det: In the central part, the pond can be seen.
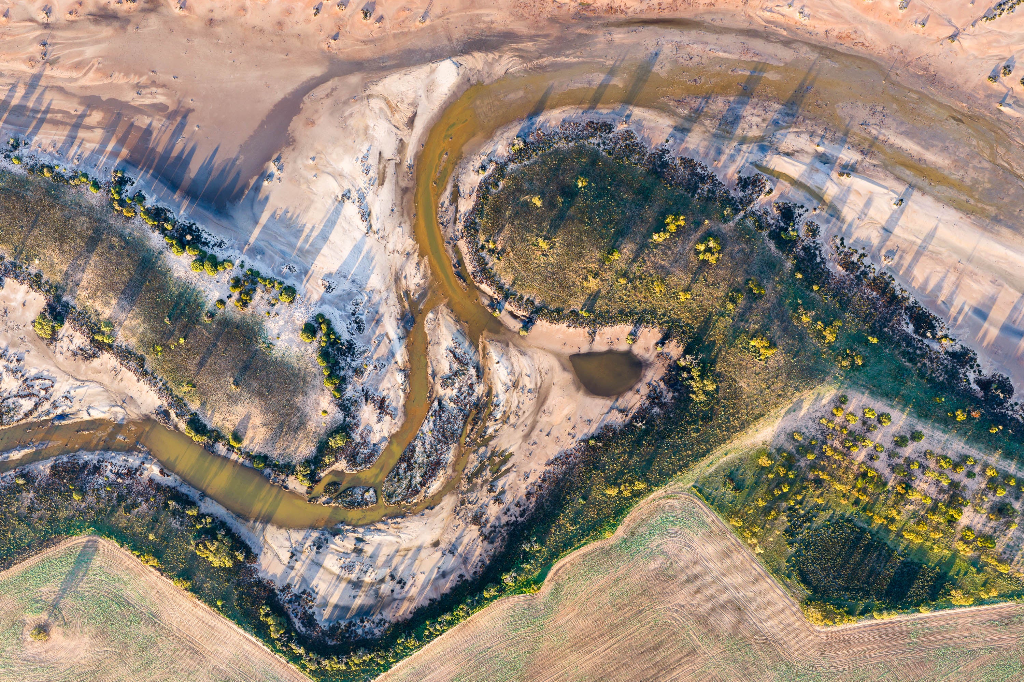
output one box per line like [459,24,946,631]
[570,354,637,394]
